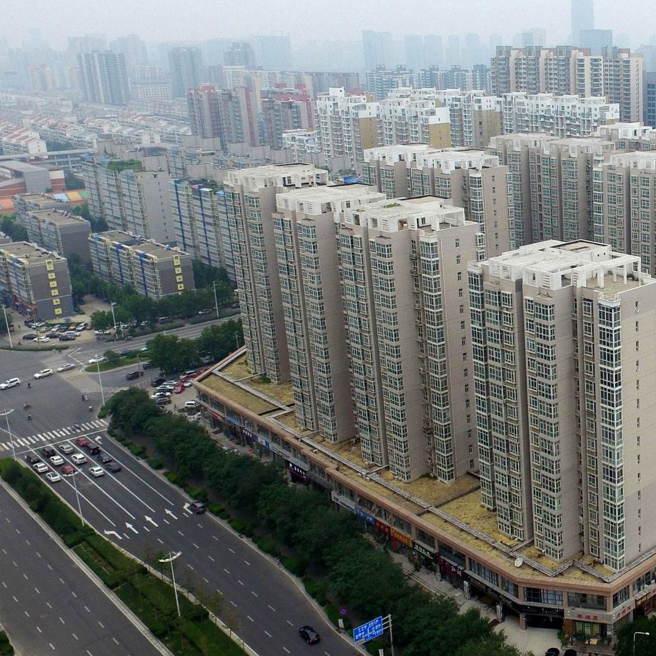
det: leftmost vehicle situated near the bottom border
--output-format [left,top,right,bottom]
[295,625,324,647]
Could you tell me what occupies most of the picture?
buildings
